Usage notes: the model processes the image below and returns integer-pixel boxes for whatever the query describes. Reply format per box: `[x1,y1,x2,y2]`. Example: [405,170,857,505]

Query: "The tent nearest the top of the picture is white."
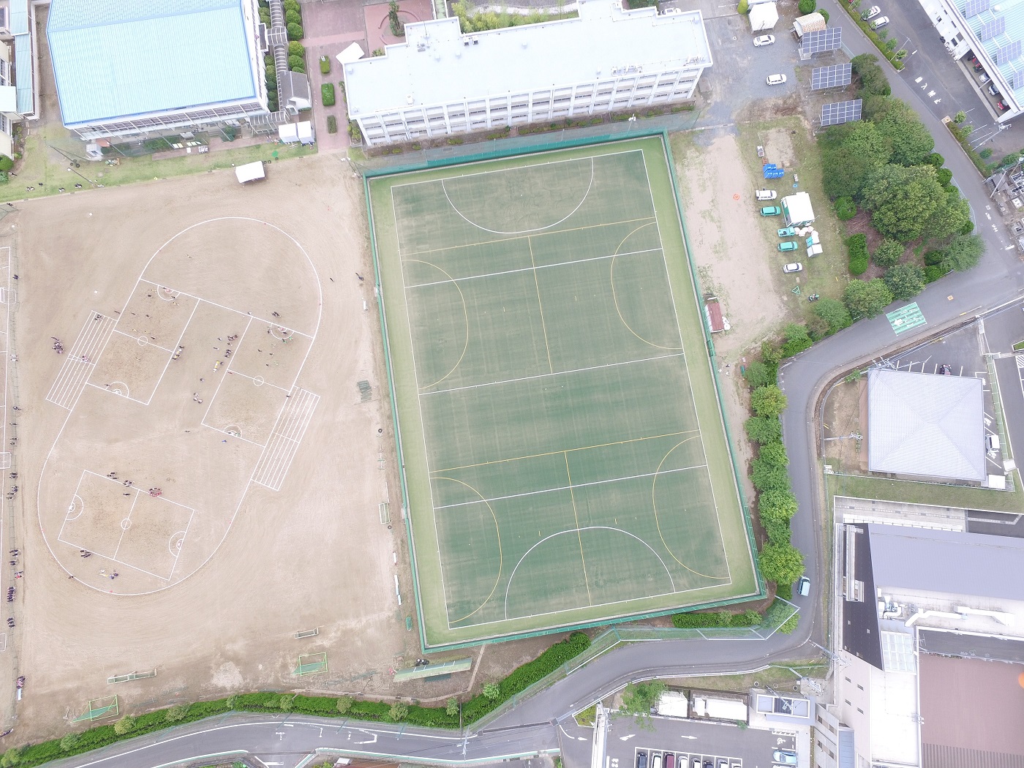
[337,43,366,64]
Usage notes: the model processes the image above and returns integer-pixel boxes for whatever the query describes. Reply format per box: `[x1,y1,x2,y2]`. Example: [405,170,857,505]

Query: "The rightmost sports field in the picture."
[368,134,761,651]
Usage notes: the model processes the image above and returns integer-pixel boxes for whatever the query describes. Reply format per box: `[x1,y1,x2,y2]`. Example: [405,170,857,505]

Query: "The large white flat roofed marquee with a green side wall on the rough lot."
[776,191,814,229]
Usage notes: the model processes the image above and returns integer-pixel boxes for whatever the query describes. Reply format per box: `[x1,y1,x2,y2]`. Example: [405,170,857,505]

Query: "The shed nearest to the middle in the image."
[706,302,724,333]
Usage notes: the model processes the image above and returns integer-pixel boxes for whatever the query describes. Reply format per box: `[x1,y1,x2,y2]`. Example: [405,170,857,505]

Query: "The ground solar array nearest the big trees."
[818,99,862,128]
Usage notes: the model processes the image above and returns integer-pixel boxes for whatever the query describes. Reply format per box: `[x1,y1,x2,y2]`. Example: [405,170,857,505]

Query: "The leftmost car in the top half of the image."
[660,4,678,16]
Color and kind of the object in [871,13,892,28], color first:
white car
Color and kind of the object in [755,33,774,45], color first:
white vehicle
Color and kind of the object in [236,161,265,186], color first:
white tent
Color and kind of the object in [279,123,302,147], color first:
white tent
